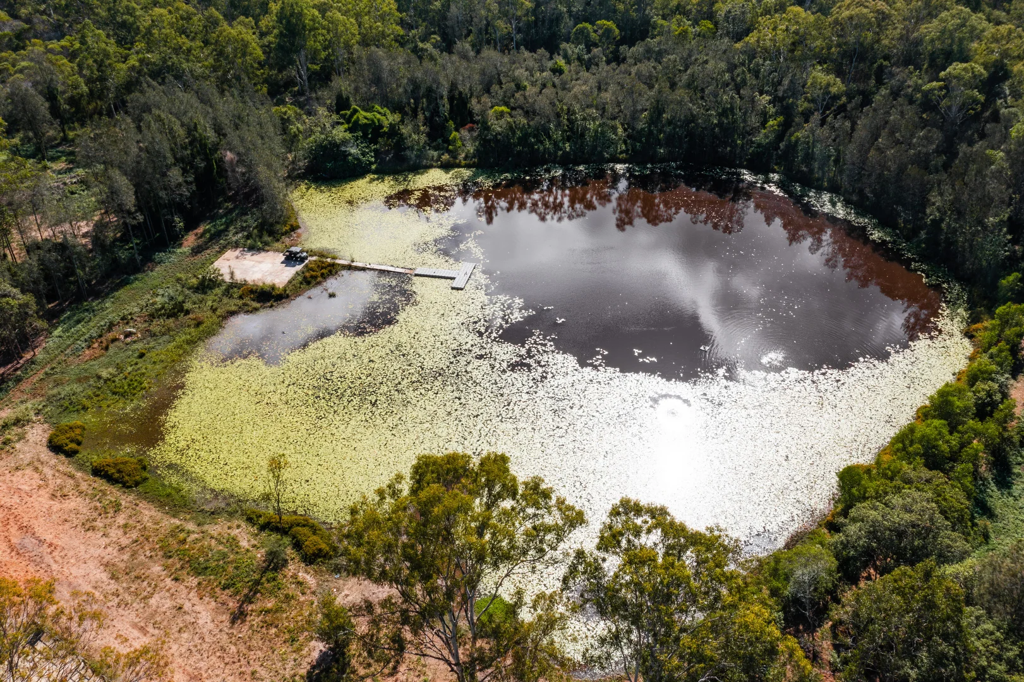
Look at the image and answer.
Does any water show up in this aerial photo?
Yes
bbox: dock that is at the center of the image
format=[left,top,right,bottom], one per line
[416,262,471,290]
